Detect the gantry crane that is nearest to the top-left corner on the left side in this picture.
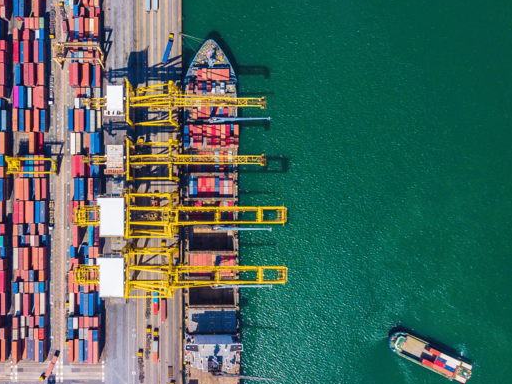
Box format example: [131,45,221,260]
[52,43,105,70]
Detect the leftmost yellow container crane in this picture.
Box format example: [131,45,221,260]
[4,155,59,177]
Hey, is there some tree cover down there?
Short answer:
No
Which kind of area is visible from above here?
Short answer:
port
